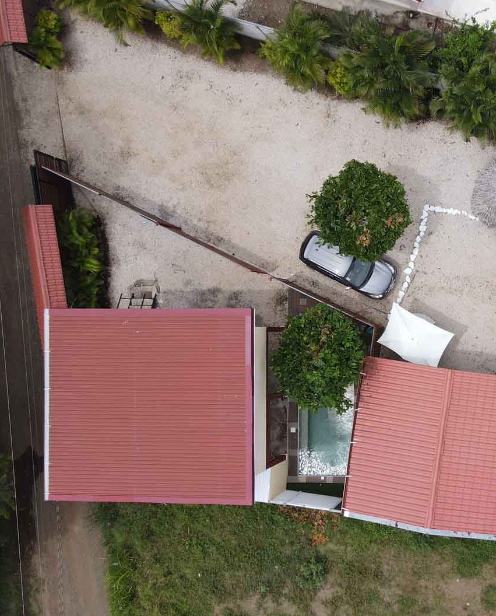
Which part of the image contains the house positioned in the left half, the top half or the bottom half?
bottom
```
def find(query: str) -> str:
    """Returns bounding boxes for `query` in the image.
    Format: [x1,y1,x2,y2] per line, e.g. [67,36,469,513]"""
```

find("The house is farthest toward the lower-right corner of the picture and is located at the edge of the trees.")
[336,358,496,535]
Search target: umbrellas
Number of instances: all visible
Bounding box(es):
[467,158,496,236]
[378,302,453,367]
